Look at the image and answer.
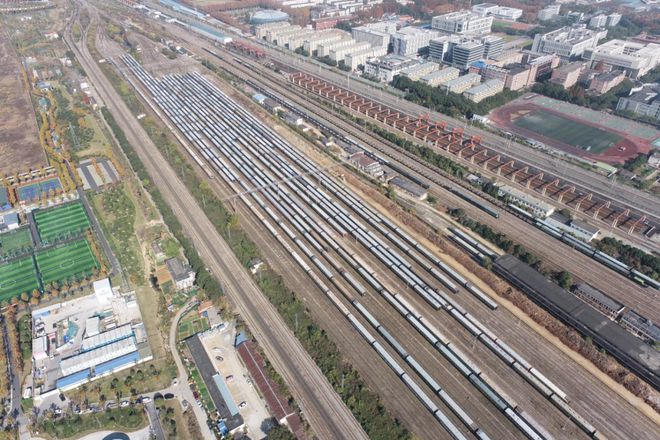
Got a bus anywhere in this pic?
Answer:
Yes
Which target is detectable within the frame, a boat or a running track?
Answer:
running track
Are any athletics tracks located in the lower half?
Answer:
No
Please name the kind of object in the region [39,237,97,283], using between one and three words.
soccer field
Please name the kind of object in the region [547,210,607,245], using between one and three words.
building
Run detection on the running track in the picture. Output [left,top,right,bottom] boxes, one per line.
[500,106,650,160]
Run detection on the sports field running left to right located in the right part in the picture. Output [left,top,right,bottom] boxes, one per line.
[516,111,631,151]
